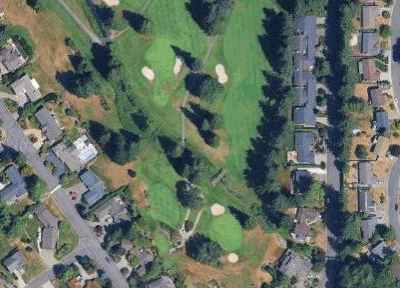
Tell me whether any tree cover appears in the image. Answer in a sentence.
Yes, tree cover shows up in the scene.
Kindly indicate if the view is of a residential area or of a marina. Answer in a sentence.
The area seen from above is a residential area.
